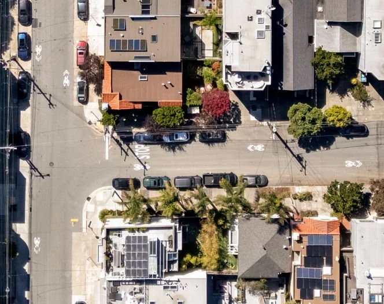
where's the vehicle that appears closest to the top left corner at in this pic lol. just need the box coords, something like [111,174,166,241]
[19,0,31,25]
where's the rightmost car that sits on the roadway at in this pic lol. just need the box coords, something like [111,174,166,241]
[341,125,368,138]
